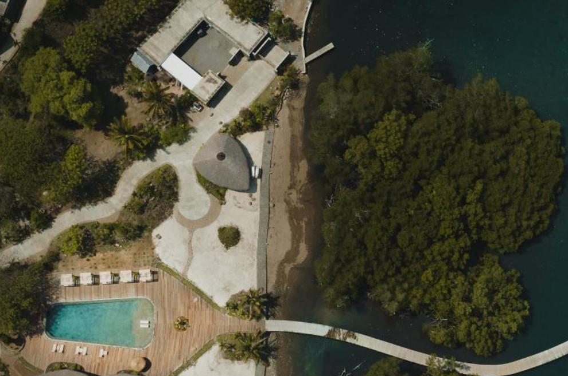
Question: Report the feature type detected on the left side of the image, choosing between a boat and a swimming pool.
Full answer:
Visible on the left side of the image is a swimming pool.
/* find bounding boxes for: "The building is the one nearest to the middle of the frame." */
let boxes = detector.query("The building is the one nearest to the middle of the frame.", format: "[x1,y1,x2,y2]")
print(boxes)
[193,133,250,190]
